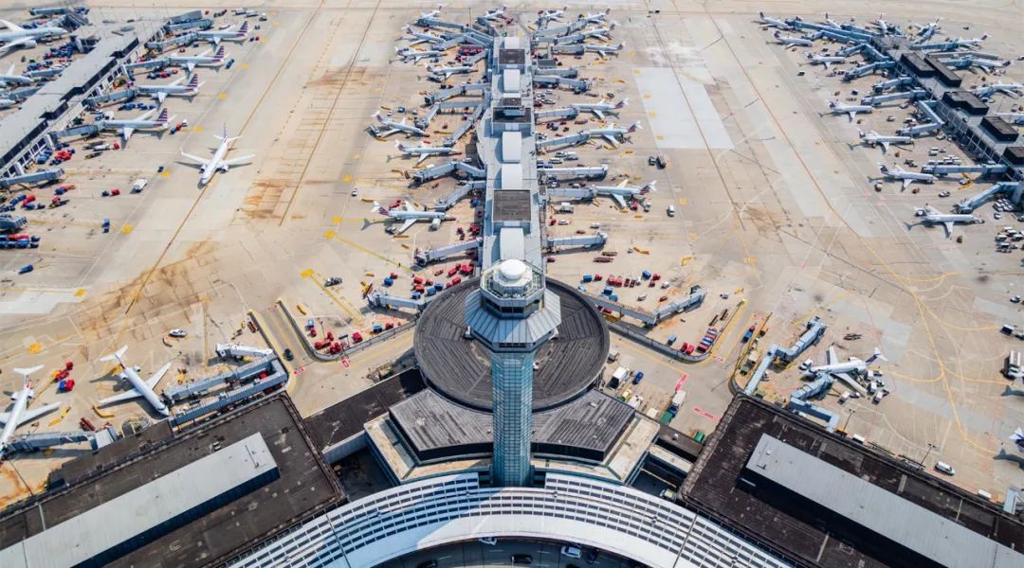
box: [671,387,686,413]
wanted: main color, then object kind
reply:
white vehicle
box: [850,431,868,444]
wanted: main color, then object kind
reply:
white vehicle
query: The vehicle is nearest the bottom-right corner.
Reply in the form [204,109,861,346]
[972,488,994,502]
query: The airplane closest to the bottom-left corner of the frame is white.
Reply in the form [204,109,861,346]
[0,374,54,458]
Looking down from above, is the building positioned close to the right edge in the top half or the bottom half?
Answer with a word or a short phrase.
bottom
